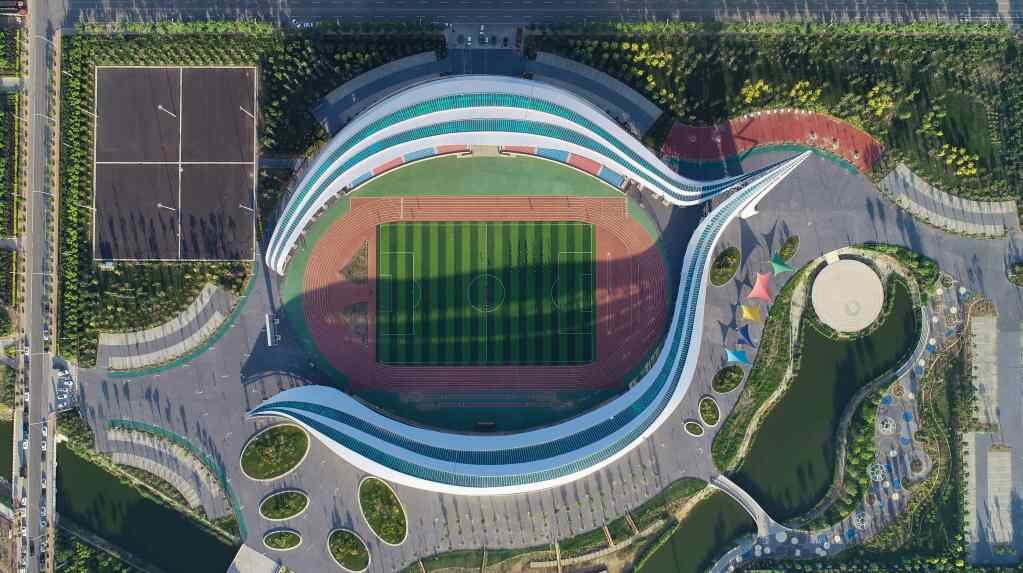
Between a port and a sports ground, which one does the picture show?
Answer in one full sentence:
What you see here is a sports ground.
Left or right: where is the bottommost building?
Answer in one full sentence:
The bottommost building sits on the left side.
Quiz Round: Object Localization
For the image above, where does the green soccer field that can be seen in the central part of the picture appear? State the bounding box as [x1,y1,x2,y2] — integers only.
[377,222,596,363]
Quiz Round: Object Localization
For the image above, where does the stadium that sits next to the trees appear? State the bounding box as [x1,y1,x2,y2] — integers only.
[250,75,811,495]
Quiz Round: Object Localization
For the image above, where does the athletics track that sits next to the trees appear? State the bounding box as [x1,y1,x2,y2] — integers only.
[302,197,667,389]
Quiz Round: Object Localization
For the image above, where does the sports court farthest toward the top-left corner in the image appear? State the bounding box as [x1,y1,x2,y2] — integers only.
[95,67,181,162]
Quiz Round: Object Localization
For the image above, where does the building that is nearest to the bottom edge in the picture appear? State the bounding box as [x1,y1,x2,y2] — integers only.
[230,539,284,573]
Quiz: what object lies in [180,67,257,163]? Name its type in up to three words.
sports court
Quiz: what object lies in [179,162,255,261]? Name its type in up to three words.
sports court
